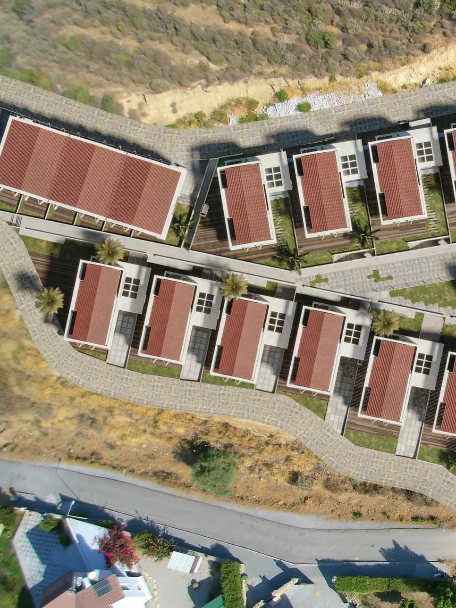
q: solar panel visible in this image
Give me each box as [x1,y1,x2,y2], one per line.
[91,580,112,598]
